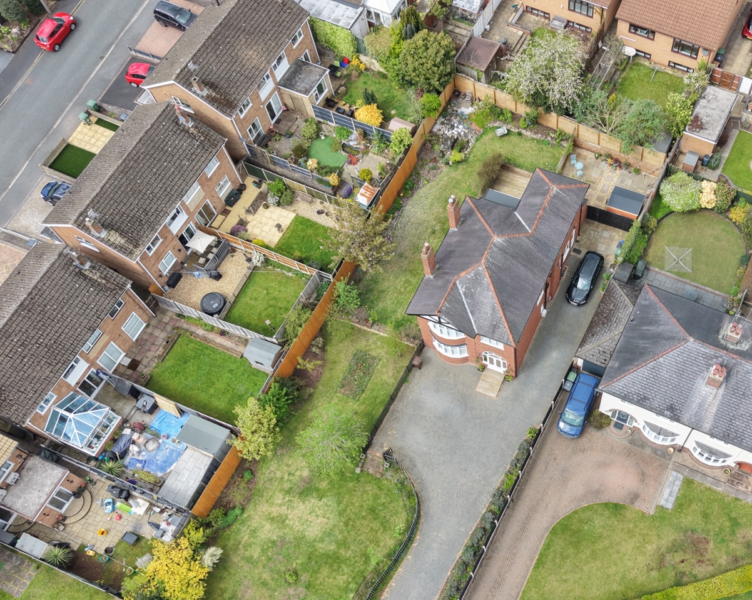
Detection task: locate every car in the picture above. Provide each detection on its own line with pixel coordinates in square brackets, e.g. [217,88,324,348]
[118,61,154,89]
[565,250,607,308]
[147,0,197,30]
[33,179,75,209]
[743,8,752,40]
[35,15,79,50]
[560,370,599,435]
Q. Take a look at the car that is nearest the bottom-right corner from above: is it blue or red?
blue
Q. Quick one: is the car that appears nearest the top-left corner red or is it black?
red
